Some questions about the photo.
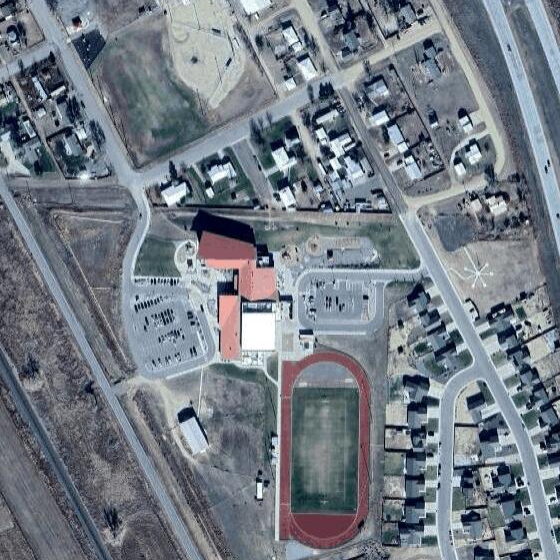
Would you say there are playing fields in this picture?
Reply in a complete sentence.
Yes, there is a playing field in the image.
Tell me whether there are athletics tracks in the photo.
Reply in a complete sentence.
Yes, an athletics track can be made out from above.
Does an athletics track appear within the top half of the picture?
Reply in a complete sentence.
No, there's no athletics track to be seen within the top half of the picture.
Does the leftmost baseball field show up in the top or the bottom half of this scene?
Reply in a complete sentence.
Seen from above, the leftmost baseball field lies in the top half of the view.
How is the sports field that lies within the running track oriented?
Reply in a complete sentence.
The sports field that lies within the running track has been laid out up and down relative to the frame.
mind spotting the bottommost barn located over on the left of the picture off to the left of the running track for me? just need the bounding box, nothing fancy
[179,417,209,453]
